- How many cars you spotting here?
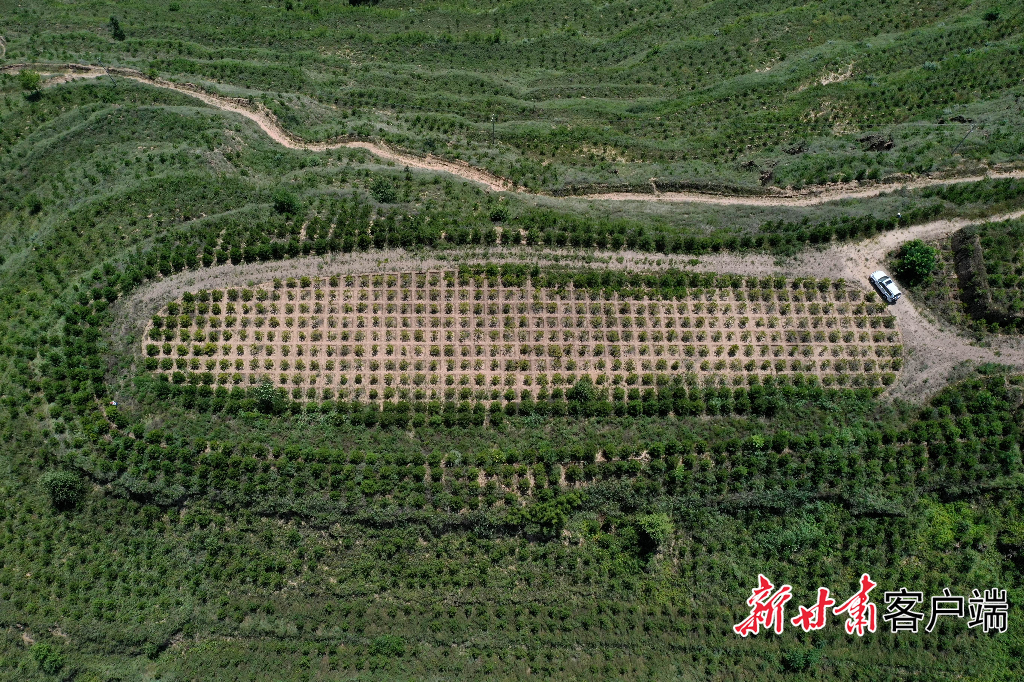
1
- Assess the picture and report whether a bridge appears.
No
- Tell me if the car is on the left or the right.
right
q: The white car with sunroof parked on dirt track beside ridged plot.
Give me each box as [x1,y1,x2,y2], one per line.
[868,269,905,302]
